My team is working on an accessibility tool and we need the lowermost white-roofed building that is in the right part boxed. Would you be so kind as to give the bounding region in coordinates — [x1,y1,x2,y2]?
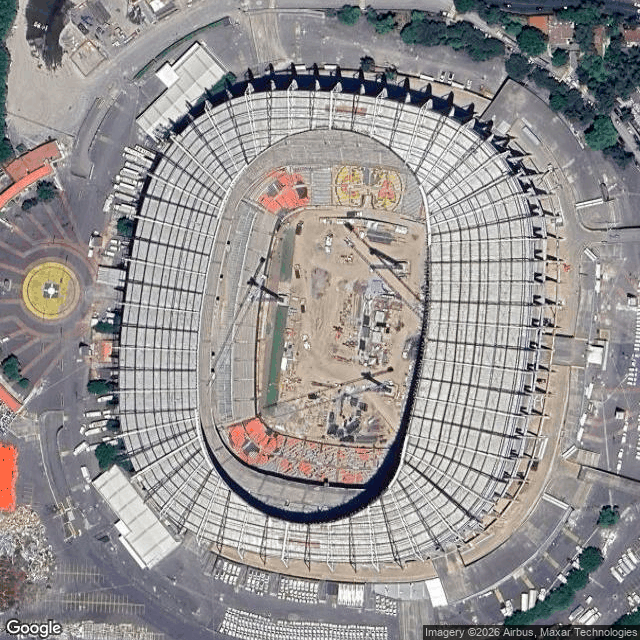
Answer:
[426,578,449,607]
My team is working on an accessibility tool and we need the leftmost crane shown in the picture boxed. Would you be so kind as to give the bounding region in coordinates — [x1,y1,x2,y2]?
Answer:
[209,275,288,382]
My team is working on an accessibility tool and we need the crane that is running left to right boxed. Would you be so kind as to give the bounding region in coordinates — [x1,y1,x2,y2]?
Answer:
[271,383,394,418]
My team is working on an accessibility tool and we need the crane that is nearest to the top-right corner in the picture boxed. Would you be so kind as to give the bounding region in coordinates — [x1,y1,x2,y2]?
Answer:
[344,237,422,319]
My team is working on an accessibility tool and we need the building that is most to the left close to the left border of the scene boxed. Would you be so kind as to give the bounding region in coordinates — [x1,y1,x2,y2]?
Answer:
[5,141,65,181]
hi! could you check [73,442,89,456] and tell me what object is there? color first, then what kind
white vehicle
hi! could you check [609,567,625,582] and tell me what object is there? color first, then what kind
white vehicle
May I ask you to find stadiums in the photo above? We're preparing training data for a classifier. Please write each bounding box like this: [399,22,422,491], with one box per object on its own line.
[114,82,562,572]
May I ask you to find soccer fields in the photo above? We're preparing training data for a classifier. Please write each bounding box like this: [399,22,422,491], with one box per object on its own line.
[255,204,429,449]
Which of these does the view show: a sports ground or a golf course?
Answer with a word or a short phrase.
sports ground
